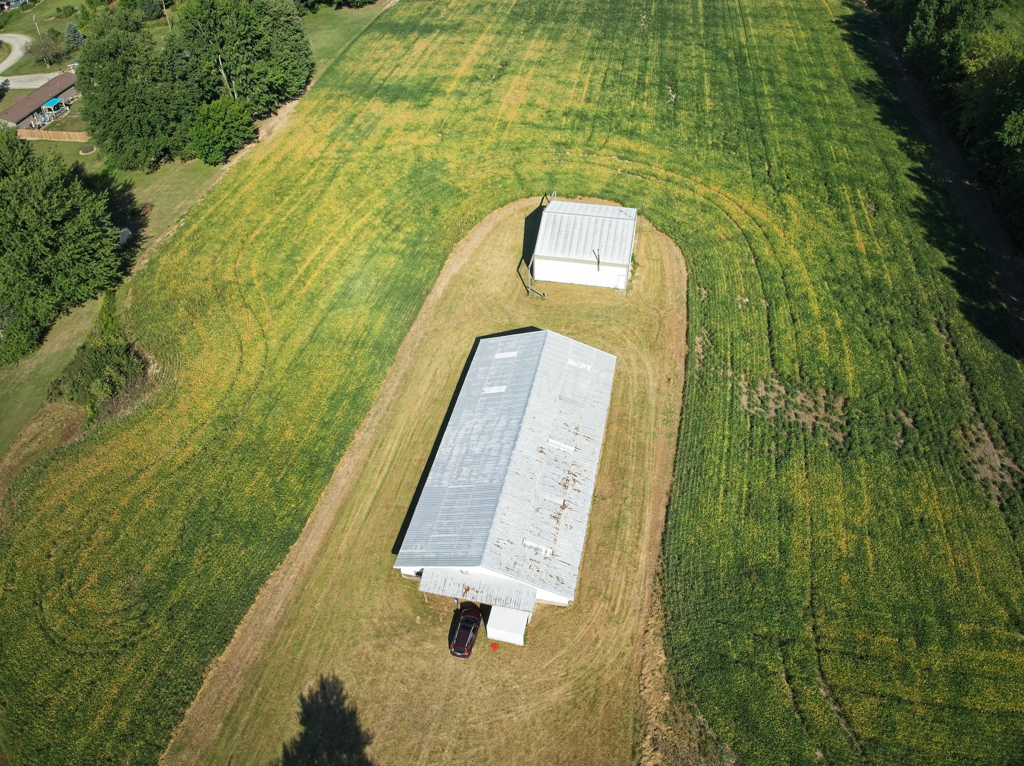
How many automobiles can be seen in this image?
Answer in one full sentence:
In total, there is 1 automobile in the scene.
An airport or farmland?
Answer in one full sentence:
The picture captures farmland.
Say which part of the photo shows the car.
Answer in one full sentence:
The car sits in the bottom section of the image.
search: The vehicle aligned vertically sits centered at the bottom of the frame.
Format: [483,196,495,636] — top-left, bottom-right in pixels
[449,608,481,660]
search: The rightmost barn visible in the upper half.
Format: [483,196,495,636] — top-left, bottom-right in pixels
[533,200,639,290]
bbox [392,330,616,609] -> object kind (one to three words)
barn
